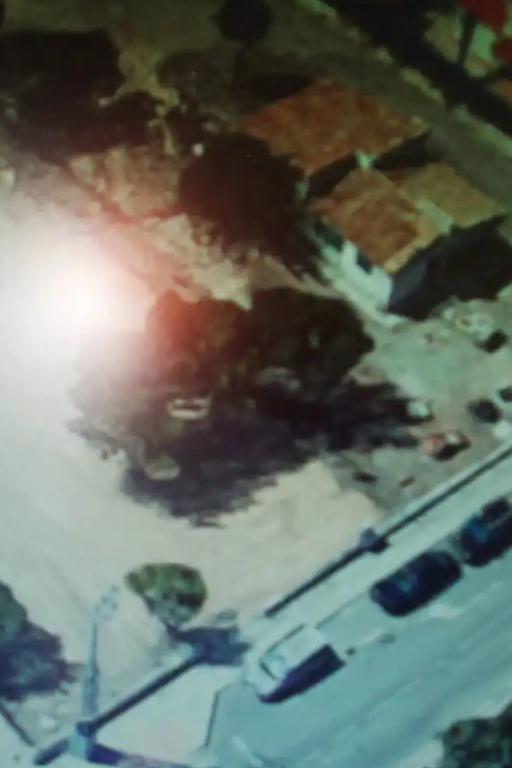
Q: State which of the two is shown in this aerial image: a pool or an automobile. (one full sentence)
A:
The one in the frame is an automobile.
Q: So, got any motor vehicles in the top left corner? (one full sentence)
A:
No, looking in the top left corner, there is no motor vehicle.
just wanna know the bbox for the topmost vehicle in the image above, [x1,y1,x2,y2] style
[457,497,512,565]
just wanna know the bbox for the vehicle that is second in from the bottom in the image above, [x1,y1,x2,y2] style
[374,543,468,622]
